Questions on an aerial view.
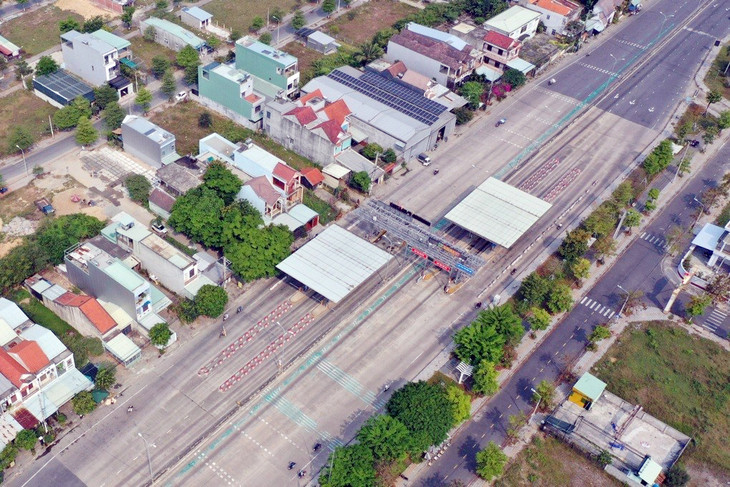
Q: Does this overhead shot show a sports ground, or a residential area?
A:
residential area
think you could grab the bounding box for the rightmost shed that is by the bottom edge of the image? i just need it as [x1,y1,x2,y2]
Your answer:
[632,456,664,487]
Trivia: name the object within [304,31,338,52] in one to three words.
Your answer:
shed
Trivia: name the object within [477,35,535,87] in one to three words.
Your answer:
house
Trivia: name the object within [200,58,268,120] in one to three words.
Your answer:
house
